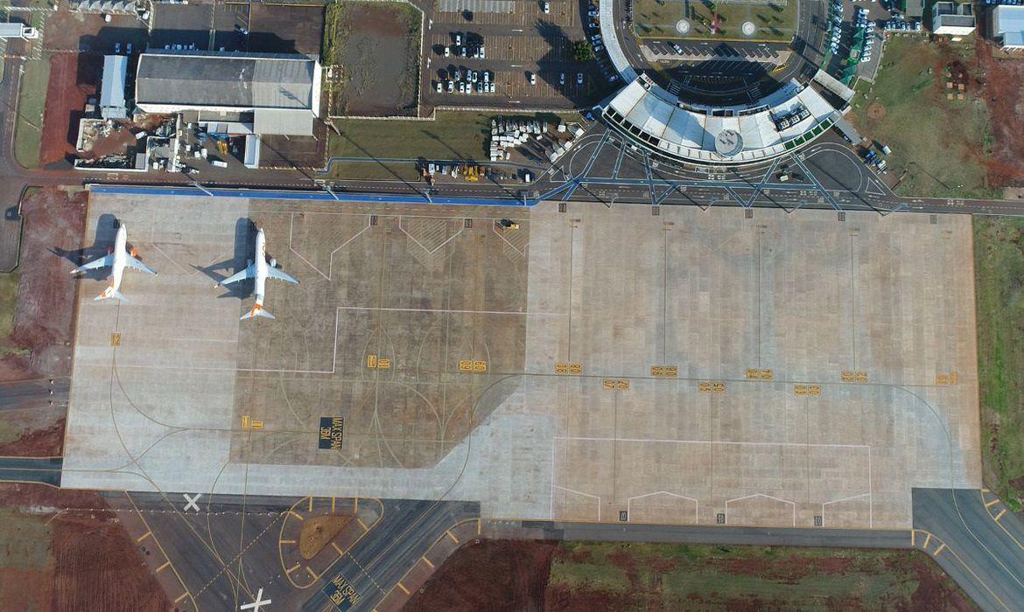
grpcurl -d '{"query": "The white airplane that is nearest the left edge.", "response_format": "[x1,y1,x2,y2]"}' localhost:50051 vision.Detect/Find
[73,224,156,297]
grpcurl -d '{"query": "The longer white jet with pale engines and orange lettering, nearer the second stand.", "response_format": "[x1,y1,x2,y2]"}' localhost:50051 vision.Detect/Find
[216,228,299,314]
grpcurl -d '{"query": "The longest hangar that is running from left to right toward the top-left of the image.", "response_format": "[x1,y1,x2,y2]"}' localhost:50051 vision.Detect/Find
[135,54,321,117]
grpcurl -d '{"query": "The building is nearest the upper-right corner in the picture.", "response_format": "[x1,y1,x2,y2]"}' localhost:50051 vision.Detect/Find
[994,6,1024,50]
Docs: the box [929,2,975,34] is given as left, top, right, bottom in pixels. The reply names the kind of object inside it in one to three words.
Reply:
building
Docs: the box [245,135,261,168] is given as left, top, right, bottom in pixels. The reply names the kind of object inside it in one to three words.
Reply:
building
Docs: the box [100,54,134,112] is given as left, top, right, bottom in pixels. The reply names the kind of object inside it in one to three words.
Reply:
shed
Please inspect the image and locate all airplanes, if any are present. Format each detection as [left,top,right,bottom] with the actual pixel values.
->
[216,228,299,314]
[73,224,156,297]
